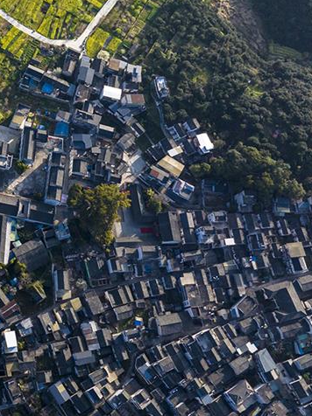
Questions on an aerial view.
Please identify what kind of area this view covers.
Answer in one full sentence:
This image shows a residential area.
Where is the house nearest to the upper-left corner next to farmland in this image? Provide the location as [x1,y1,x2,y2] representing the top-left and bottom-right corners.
[21,65,44,85]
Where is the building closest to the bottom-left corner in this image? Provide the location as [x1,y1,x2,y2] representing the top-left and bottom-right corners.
[0,375,23,400]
